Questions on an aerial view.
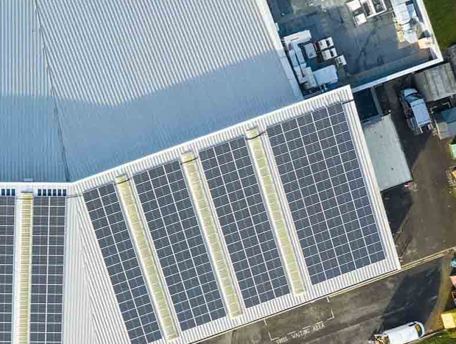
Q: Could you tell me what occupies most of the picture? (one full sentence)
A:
For the most part, this view shows buildings.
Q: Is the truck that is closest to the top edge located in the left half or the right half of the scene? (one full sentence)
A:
The truck that is closest to the top edge sits on the right side.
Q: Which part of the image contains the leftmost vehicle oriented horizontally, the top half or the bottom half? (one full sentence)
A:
You can find the leftmost vehicle oriented horizontally in the bottom half.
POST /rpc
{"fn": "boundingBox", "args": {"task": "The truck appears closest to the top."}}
[398,90,435,135]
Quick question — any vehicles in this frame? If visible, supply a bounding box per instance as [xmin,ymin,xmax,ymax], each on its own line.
[398,90,435,135]
[368,321,427,344]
